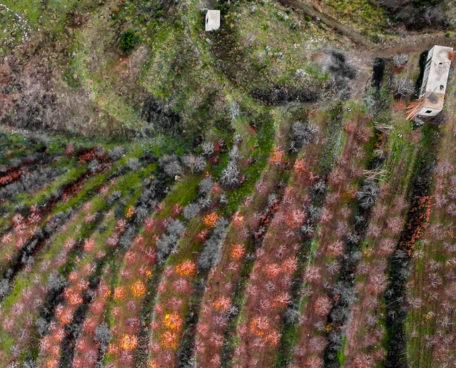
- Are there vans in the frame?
No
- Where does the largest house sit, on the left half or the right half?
right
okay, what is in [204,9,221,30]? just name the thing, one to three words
shed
